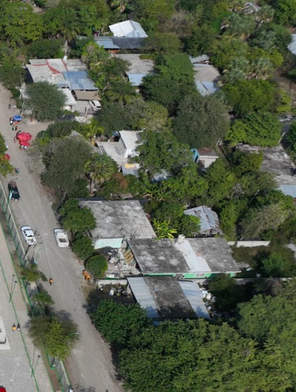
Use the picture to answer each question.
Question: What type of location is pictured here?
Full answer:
What you see here is a residential area.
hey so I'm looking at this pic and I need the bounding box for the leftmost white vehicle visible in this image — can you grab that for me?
[21,226,38,243]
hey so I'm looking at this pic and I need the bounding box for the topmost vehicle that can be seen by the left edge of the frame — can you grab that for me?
[6,179,22,198]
